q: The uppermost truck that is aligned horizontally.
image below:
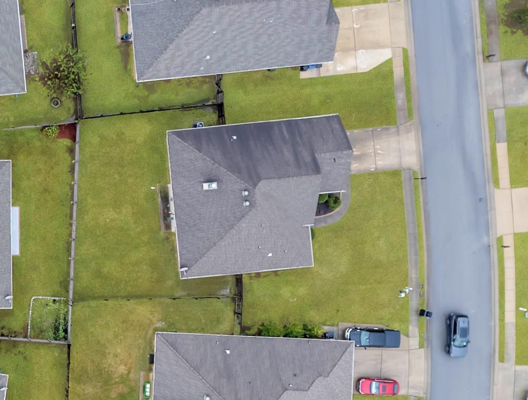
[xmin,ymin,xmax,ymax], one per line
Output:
[343,327,402,350]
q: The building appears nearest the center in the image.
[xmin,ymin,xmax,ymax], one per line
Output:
[164,113,353,280]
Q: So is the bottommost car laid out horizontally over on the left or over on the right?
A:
right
